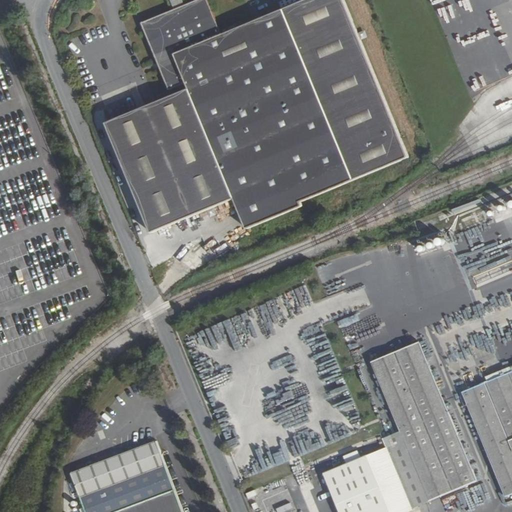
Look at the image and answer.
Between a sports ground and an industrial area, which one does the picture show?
industrial area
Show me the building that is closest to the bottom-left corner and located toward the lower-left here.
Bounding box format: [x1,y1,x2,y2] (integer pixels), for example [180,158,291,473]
[70,440,183,512]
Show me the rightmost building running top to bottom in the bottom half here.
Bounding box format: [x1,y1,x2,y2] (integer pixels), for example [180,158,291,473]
[460,370,512,496]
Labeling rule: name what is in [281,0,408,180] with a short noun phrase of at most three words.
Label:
warehouse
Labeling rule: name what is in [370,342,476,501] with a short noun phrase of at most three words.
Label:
building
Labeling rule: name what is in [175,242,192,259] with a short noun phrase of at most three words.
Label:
vehicle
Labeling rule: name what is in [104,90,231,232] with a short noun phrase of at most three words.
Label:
warehouse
